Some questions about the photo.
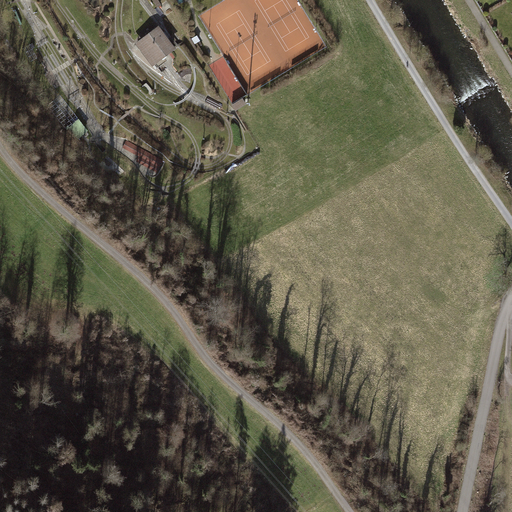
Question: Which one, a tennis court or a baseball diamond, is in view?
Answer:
tennis court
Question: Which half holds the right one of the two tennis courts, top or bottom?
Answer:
top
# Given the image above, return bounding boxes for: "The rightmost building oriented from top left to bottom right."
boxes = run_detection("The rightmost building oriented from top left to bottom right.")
[209,56,246,102]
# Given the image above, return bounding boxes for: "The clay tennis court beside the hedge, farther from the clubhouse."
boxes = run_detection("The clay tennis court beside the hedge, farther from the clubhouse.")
[246,0,325,70]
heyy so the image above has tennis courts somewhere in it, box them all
[200,0,288,93]
[246,0,325,70]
